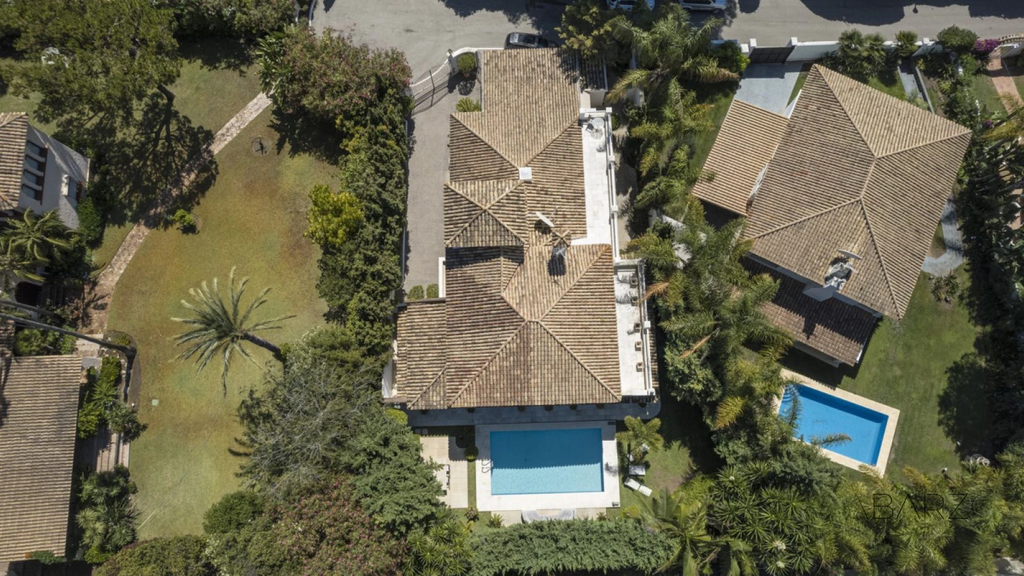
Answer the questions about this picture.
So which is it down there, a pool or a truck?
pool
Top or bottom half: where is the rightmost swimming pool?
bottom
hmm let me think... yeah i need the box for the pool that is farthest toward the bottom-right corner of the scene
[765,369,899,476]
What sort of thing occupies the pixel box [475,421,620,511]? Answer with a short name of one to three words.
swimming pool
